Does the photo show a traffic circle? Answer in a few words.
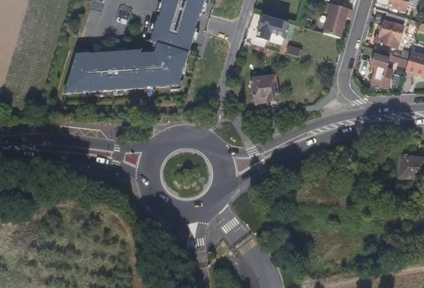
Yes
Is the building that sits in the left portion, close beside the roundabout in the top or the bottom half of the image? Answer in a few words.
top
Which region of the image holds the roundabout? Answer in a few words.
center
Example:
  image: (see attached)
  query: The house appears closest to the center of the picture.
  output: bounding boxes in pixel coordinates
[250,74,278,104]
